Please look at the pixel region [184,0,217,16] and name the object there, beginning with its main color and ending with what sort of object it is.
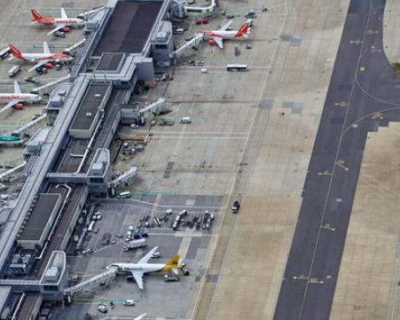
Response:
white jet bridge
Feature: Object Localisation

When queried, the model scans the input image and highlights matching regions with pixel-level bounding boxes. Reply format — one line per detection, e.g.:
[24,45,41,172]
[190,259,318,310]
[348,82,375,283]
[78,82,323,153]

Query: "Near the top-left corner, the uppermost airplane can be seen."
[28,6,84,33]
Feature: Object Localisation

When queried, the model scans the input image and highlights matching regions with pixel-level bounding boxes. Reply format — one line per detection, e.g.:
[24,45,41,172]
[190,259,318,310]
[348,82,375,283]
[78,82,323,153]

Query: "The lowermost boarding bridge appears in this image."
[60,265,122,300]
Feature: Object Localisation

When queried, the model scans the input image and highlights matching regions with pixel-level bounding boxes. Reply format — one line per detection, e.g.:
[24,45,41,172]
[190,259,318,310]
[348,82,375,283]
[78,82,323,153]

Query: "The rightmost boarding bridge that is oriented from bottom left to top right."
[169,32,207,60]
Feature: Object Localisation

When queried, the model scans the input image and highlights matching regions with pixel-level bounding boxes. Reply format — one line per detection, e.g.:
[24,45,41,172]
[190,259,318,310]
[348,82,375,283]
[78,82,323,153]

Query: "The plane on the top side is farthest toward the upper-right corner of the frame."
[205,16,256,45]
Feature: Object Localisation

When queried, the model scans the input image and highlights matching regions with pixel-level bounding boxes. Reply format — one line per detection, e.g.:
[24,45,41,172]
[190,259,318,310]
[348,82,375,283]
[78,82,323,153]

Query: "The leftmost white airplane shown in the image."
[0,78,39,108]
